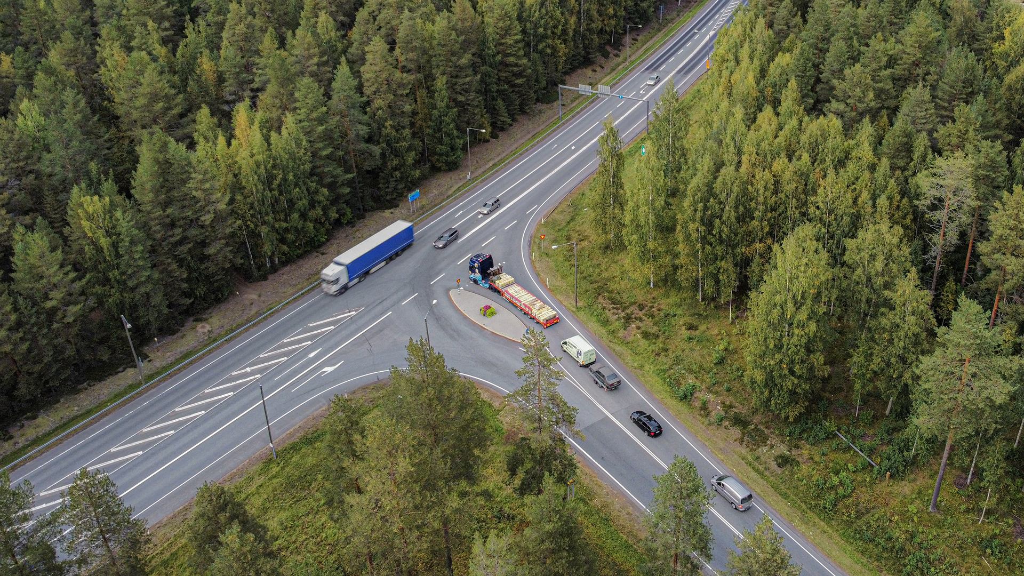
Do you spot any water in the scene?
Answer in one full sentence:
No, the picture contains no water.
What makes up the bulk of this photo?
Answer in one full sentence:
The largest share of the image is taken up by trees.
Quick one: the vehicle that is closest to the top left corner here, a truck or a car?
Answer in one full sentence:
From above, the vehicle that is closest to the top left corner can be identified as a truck.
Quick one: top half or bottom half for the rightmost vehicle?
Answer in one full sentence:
The rightmost vehicle sits in the bottom half of the picture.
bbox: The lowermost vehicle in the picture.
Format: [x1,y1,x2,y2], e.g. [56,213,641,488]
[710,473,756,511]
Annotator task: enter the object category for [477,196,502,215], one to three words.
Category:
car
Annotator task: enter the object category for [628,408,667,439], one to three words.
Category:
car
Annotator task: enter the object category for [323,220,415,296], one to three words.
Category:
truck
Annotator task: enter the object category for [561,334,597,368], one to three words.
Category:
van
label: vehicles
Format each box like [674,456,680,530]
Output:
[710,473,756,511]
[561,334,597,368]
[477,196,502,215]
[432,227,460,248]
[646,73,661,84]
[468,251,561,328]
[628,408,667,439]
[323,220,415,296]
[589,360,622,389]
